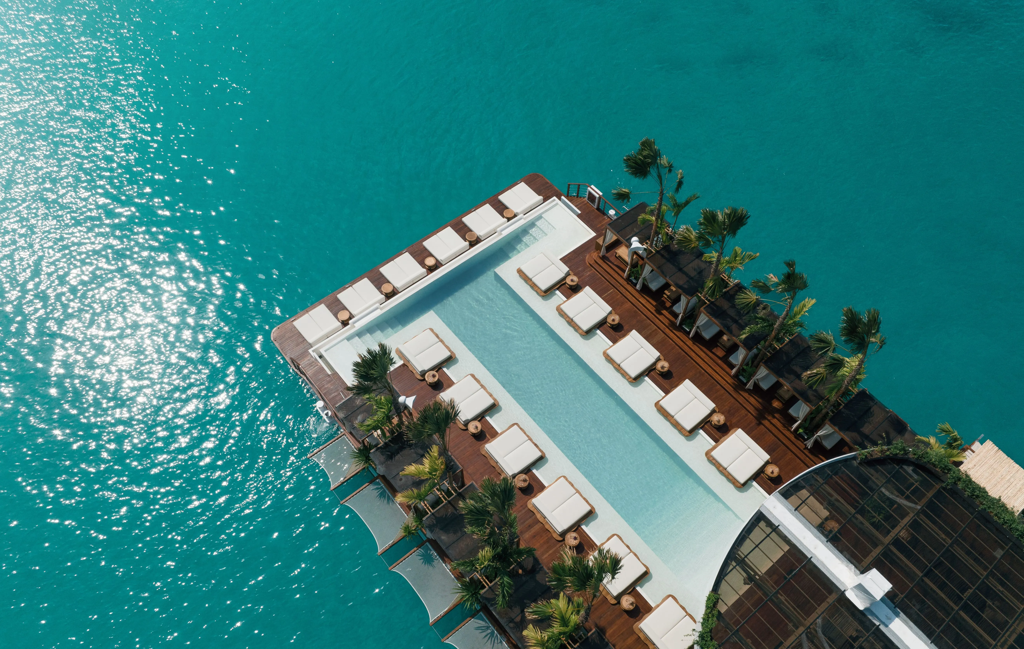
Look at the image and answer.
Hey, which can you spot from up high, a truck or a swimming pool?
swimming pool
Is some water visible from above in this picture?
Yes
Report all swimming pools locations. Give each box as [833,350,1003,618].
[309,195,773,623]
